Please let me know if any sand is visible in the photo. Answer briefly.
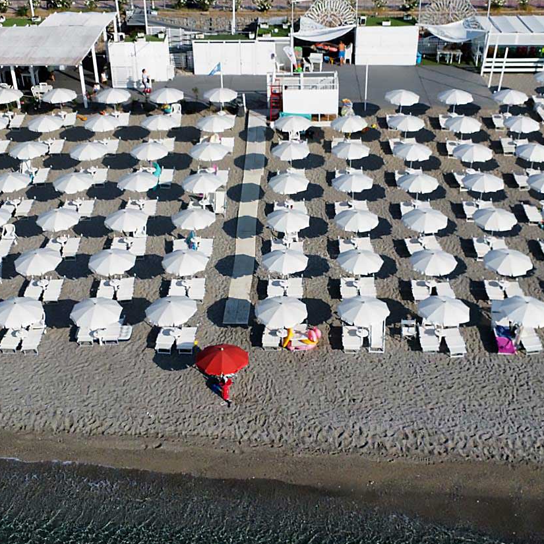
Yes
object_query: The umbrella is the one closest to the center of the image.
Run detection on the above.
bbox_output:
[261,248,310,286]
